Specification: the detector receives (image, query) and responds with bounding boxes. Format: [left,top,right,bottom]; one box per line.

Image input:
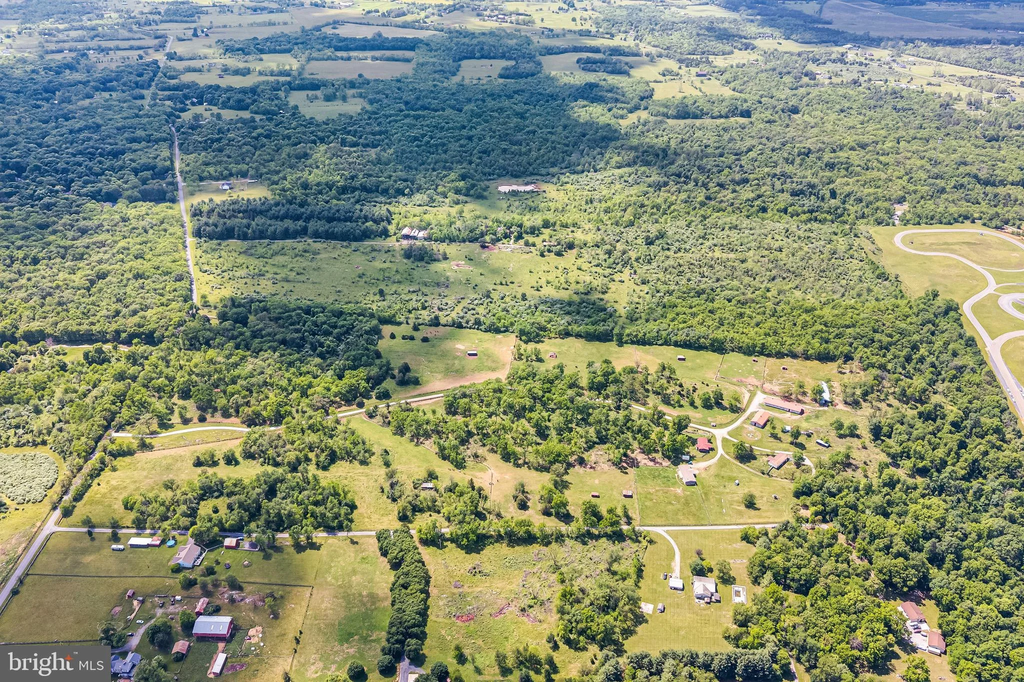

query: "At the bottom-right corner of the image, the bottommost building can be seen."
[921,632,947,655]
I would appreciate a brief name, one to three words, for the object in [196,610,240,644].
barn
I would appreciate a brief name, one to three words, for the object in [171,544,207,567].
house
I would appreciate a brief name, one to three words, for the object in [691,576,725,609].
house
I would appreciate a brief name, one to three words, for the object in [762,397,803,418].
building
